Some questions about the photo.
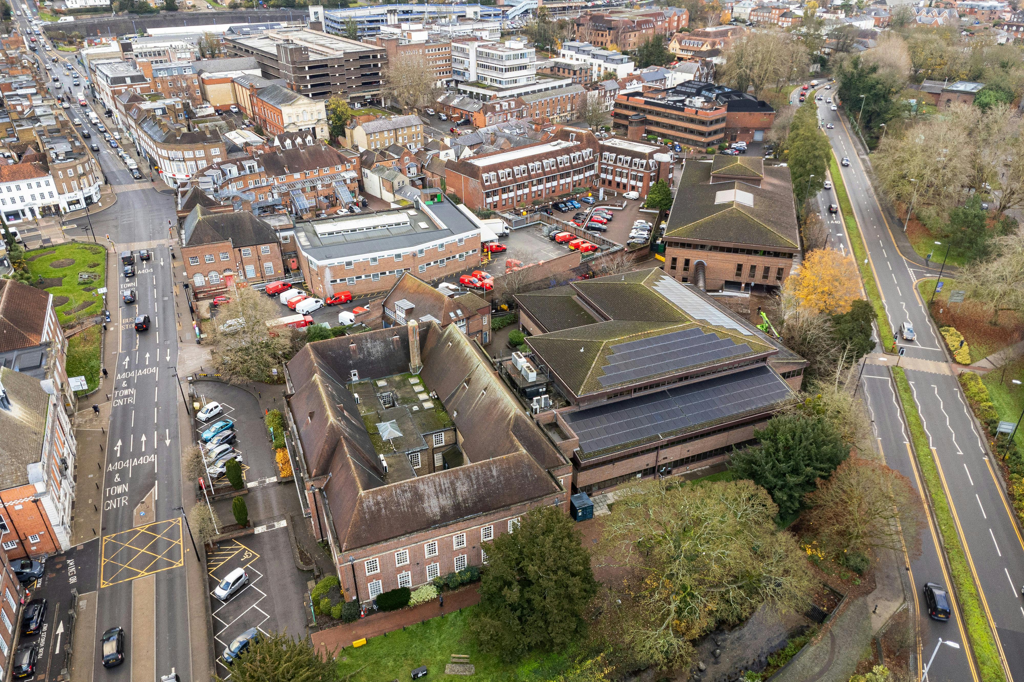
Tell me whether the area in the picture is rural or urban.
urban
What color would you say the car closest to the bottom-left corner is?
black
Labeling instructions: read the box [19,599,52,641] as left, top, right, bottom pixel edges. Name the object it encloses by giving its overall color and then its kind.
black car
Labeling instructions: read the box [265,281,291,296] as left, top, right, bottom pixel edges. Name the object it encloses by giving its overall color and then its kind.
red vehicle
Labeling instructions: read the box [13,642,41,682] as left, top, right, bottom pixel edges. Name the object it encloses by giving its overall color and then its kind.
black car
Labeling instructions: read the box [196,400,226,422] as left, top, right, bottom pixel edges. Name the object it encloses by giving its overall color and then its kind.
white car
